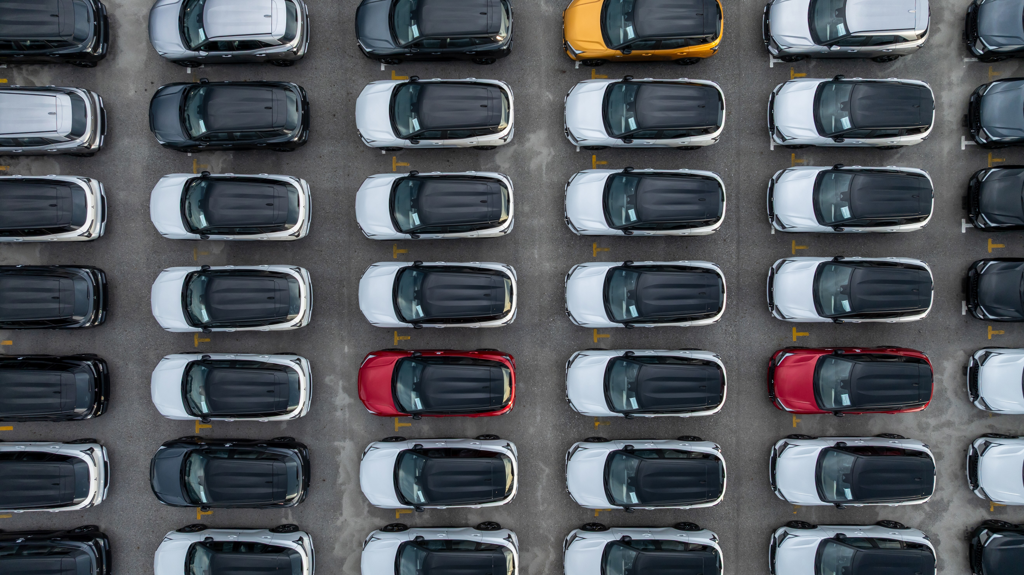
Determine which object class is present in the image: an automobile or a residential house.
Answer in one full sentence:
There is an automobile in the scene.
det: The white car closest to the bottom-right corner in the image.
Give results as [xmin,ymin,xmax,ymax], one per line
[966,432,1024,503]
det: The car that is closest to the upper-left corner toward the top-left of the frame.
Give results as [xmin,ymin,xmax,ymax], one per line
[0,0,109,67]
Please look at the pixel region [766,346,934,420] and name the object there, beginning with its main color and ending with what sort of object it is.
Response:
black car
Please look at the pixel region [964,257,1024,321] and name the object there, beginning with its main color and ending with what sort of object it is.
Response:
black car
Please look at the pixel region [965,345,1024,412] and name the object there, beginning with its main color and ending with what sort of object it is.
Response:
white car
